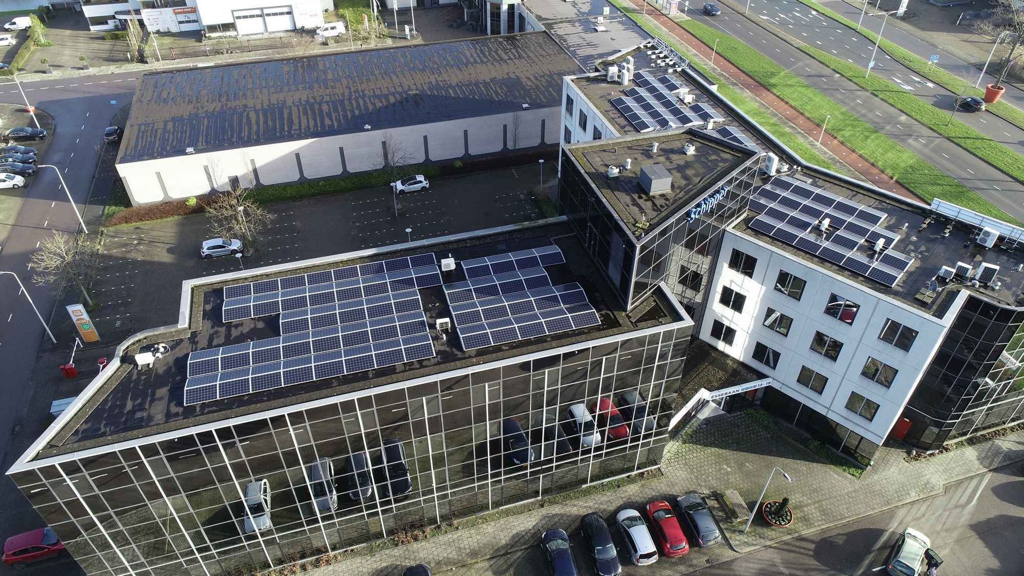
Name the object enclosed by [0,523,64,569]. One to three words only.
car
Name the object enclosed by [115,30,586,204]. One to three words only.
building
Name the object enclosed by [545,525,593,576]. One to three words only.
car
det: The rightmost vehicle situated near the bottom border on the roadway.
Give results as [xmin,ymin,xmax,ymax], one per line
[890,528,944,576]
